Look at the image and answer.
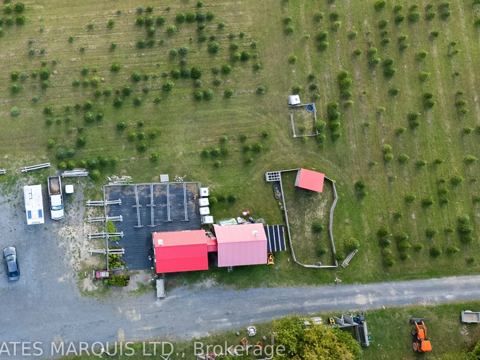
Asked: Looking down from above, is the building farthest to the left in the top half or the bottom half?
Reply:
bottom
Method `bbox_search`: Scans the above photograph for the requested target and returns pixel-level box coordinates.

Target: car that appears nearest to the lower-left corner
[3,246,21,280]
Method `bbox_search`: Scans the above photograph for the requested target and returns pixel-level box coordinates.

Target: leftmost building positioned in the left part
[154,229,208,273]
